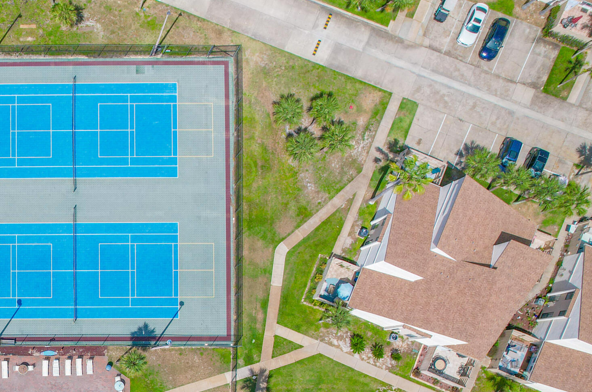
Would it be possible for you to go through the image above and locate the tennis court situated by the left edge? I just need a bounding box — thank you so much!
[0,56,236,346]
